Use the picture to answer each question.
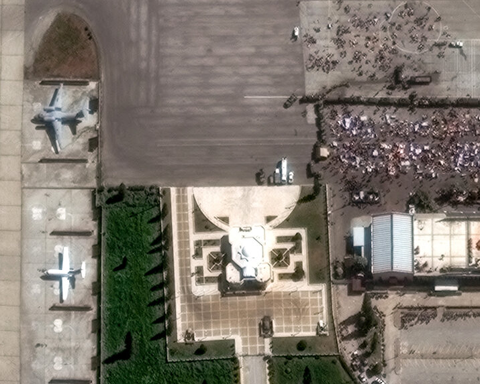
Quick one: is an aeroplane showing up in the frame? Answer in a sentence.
Yes, this view includes an aeroplane.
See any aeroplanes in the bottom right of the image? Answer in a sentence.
No, I see no aeroplane in the bottom right of the image.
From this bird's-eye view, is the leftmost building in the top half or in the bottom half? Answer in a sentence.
The bottom half of the photo is where the leftmost building is.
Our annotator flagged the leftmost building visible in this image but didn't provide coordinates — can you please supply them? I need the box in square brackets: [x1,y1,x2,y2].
[221,226,270,298]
